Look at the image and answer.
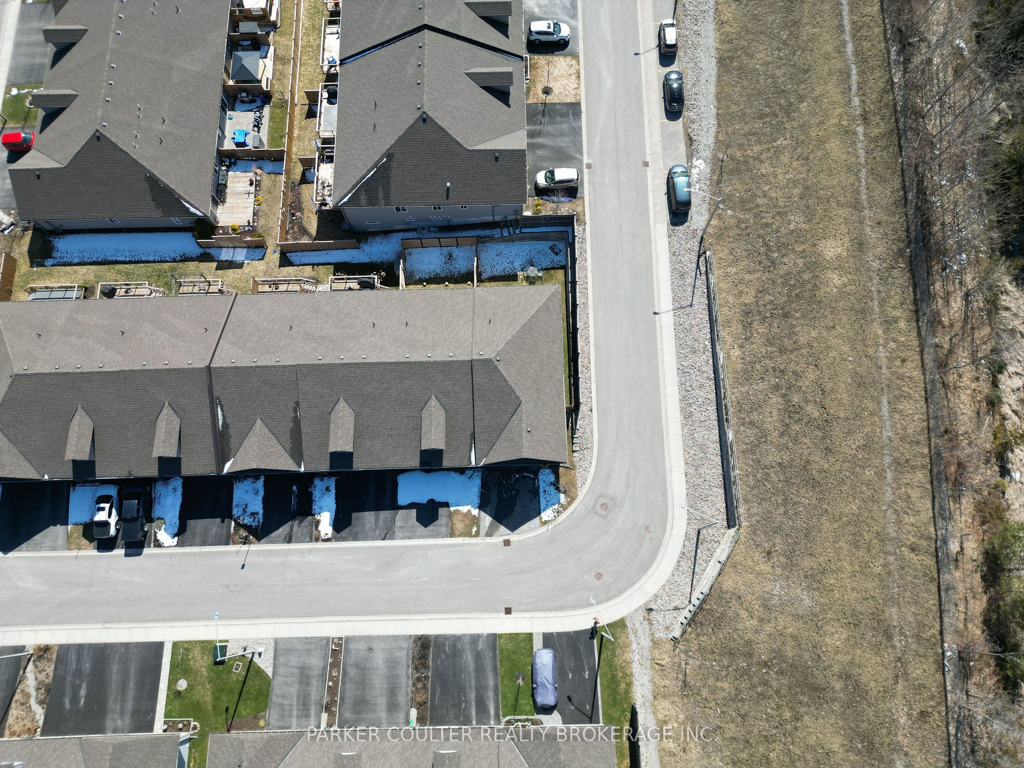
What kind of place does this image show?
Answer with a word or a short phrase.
residential area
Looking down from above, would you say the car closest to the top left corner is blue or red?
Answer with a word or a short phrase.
red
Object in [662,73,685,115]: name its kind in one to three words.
car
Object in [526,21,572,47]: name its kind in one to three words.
car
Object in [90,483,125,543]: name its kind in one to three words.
truck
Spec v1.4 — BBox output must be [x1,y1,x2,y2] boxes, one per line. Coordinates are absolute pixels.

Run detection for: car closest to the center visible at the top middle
[533,169,582,195]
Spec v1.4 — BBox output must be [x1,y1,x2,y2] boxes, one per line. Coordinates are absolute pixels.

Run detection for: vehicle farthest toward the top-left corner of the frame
[0,129,36,155]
